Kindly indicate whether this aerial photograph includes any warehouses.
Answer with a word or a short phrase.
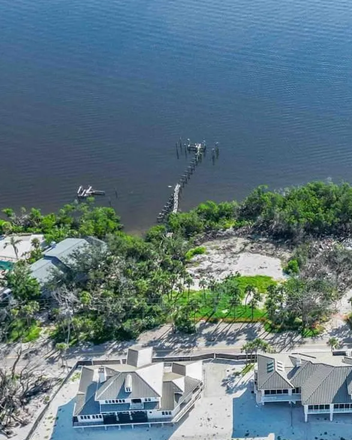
No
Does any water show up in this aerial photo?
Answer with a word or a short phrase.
Yes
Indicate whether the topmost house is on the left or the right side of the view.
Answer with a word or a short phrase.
left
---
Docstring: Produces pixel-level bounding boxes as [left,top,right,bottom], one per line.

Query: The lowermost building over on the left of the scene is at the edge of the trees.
[74,348,207,439]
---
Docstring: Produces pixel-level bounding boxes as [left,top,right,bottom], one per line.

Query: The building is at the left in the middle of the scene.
[30,236,105,296]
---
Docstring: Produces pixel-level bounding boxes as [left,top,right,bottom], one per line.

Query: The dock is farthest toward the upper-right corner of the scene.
[155,137,217,218]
